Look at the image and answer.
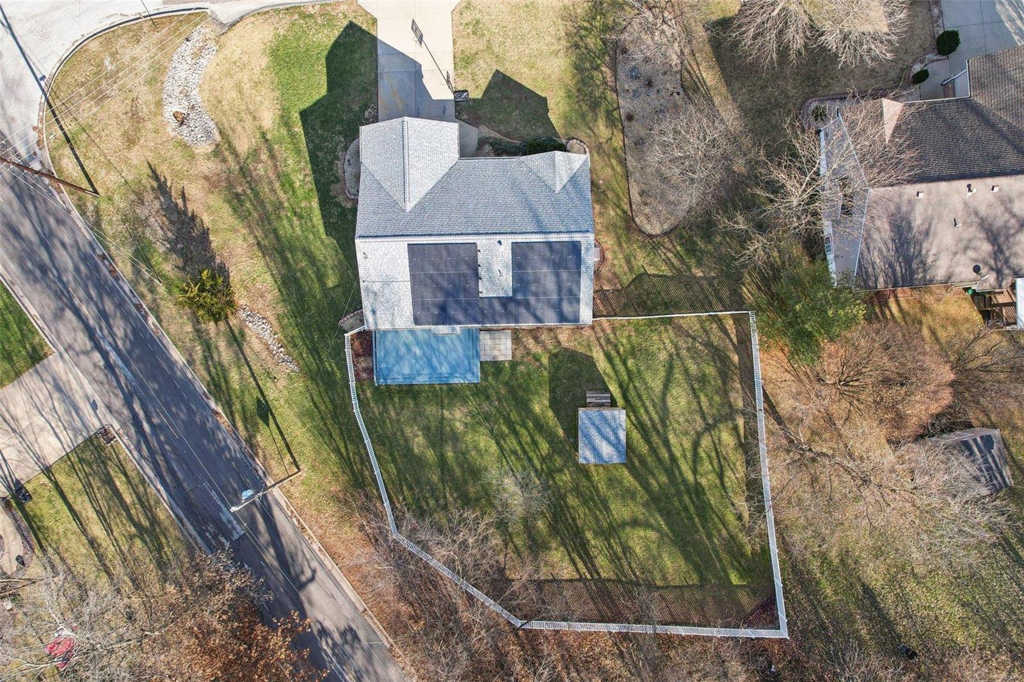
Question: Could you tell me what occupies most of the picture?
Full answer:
The largest share of the image is taken up by grass.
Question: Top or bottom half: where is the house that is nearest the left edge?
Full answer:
It is in the top half that the house that is nearest the left edge appears.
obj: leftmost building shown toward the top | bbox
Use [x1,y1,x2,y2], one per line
[356,117,594,335]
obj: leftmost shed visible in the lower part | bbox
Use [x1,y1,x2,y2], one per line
[577,391,626,464]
